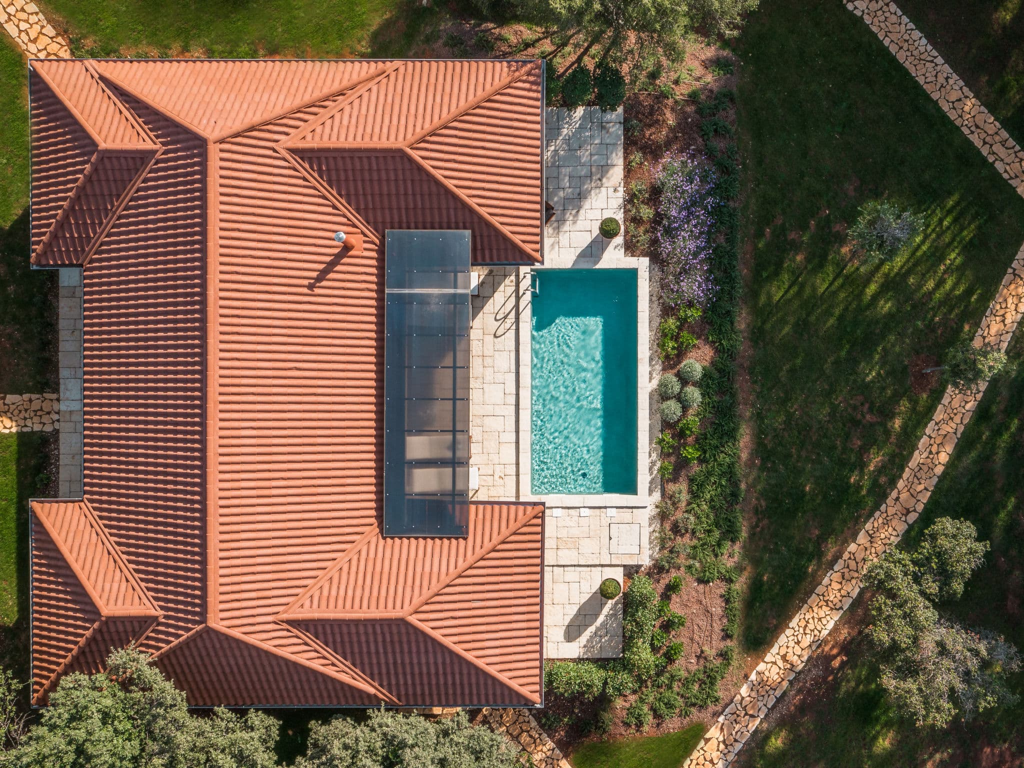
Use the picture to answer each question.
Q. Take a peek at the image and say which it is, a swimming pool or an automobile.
swimming pool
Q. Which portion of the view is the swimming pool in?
center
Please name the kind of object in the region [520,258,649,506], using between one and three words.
swimming pool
